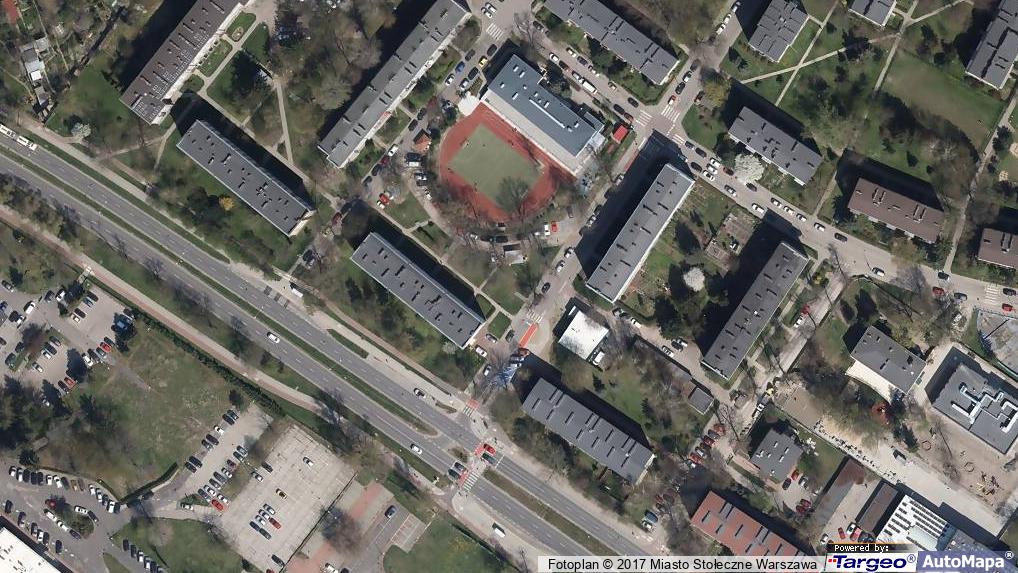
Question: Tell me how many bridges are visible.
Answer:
0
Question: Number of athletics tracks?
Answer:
1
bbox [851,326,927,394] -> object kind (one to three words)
building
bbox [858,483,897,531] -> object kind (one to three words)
shed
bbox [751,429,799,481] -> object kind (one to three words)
building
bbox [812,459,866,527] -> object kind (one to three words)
shed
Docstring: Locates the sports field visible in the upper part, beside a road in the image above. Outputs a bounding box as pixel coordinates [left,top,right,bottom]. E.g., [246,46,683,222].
[439,101,576,222]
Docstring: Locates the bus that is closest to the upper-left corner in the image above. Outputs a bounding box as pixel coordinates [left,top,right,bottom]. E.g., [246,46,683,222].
[0,121,40,152]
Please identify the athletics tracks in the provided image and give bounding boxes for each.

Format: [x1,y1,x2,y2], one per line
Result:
[439,101,576,222]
